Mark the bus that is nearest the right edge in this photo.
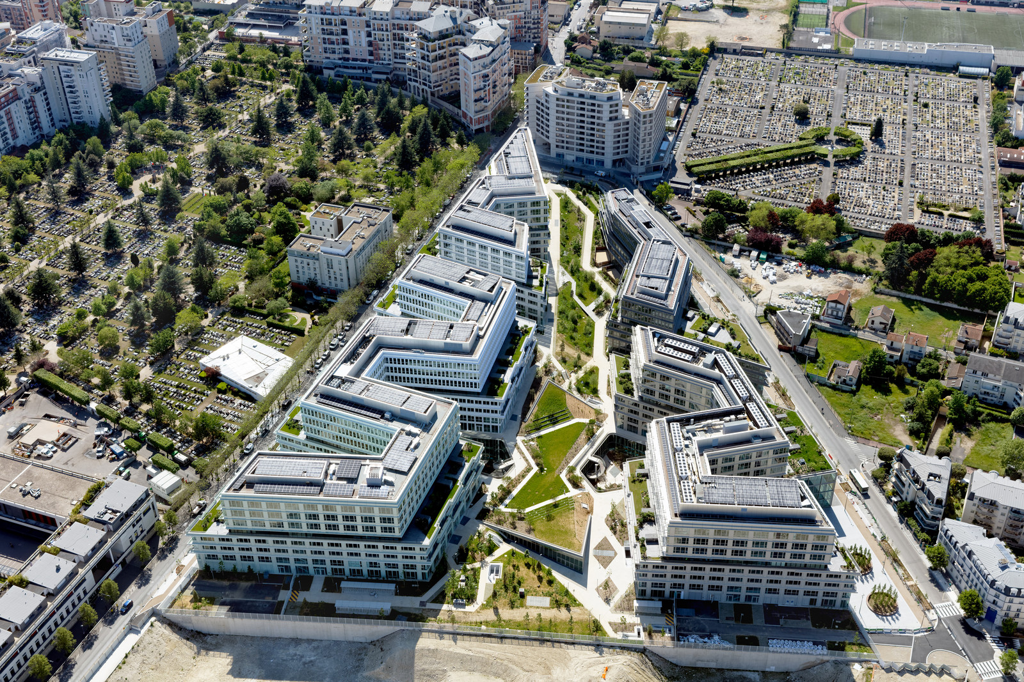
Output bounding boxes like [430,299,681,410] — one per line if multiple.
[850,469,872,501]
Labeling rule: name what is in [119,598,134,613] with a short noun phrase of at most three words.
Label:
car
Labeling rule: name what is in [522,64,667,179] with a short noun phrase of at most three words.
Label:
house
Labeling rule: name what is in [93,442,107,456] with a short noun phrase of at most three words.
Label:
vehicle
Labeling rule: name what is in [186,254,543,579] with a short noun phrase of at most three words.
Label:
building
